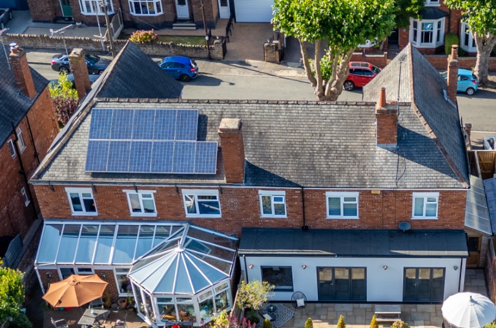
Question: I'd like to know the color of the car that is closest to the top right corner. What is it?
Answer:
blue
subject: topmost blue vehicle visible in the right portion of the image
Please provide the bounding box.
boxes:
[448,67,485,93]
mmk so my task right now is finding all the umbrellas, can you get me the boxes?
[49,275,111,316]
[440,296,495,328]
